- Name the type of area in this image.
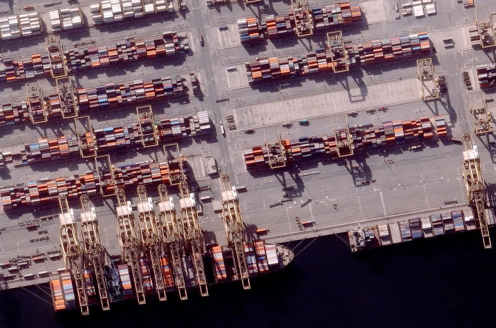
port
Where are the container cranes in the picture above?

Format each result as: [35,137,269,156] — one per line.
[79,190,109,312]
[264,126,286,172]
[136,180,167,302]
[219,167,251,288]
[156,177,187,299]
[459,126,491,247]
[136,105,159,151]
[475,6,496,51]
[416,57,439,103]
[116,184,146,306]
[469,89,492,135]
[75,114,97,160]
[291,0,313,40]
[163,143,185,189]
[332,115,355,161]
[177,174,208,295]
[45,35,67,81]
[58,193,89,316]
[327,31,350,76]
[26,82,48,128]
[95,154,118,199]
[56,77,78,123]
